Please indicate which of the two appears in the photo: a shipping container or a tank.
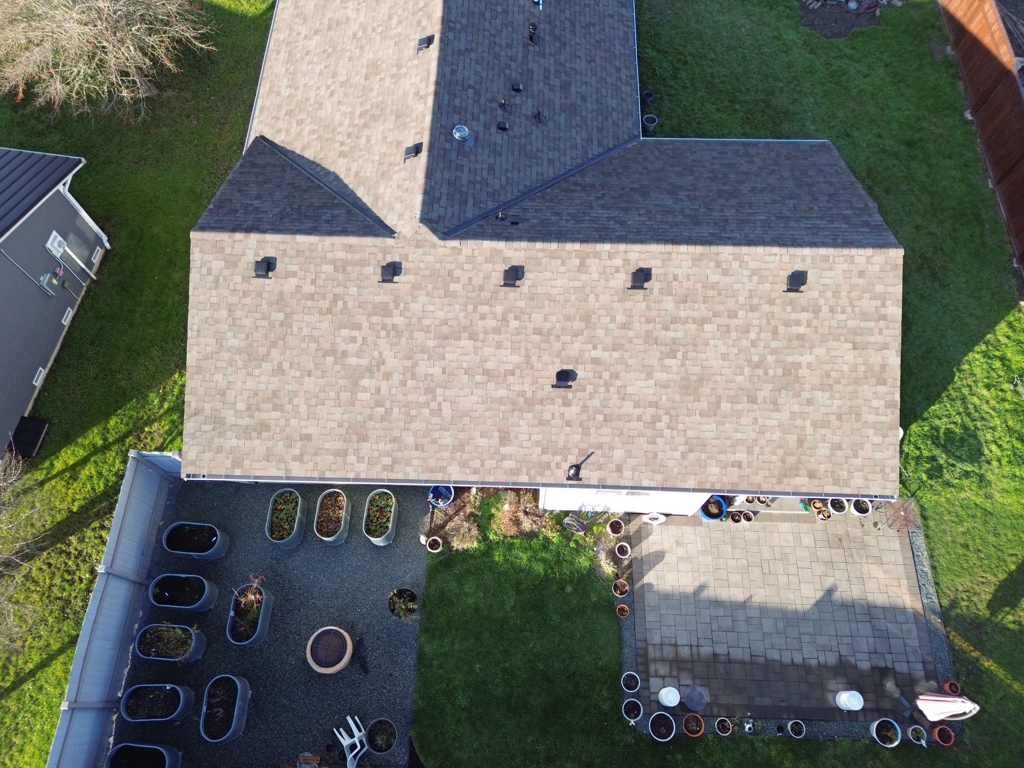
tank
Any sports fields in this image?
No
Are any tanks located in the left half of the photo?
Yes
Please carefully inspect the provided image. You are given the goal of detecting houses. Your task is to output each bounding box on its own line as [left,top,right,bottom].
[0,138,121,454]
[182,0,909,516]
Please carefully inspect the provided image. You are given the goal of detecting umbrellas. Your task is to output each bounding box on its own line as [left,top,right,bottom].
[892,688,983,726]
